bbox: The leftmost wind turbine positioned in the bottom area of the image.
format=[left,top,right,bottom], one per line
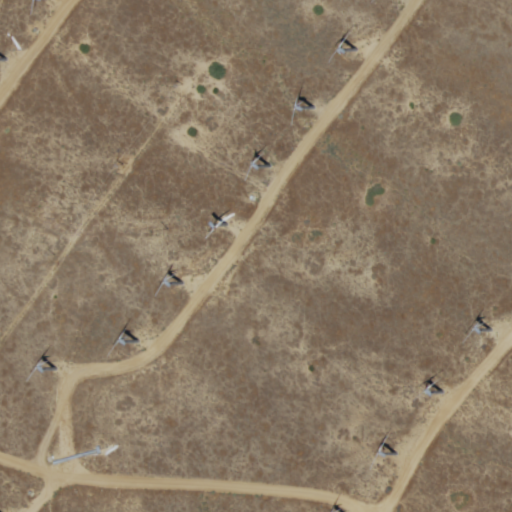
[26,358,58,382]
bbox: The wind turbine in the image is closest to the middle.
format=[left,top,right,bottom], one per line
[208,216,228,240]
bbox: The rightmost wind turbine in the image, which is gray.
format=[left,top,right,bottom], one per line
[462,318,493,342]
